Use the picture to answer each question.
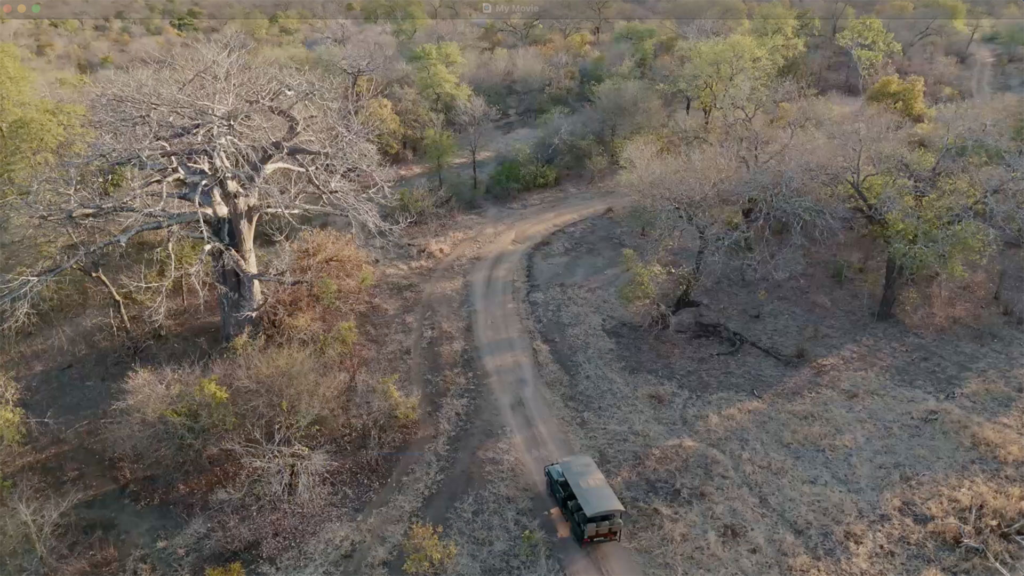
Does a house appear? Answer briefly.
No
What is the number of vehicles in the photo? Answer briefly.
one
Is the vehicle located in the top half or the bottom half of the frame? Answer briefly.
bottom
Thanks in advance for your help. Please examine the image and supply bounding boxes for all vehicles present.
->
[547,451,624,547]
